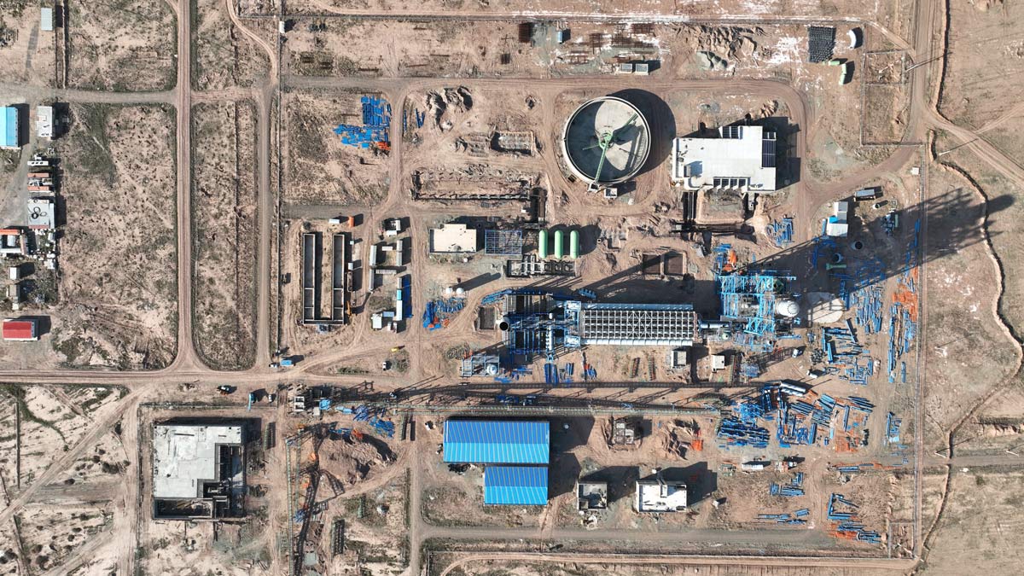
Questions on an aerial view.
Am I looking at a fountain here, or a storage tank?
storage tank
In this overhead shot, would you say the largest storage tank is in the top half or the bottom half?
top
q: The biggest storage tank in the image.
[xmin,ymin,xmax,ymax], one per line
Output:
[560,95,651,192]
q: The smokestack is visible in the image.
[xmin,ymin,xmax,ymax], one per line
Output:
[496,312,512,330]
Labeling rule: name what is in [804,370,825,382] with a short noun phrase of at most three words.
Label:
vehicle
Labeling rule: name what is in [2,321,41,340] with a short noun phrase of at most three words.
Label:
house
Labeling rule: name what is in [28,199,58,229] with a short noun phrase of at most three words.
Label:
house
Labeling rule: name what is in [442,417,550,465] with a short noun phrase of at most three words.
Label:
building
